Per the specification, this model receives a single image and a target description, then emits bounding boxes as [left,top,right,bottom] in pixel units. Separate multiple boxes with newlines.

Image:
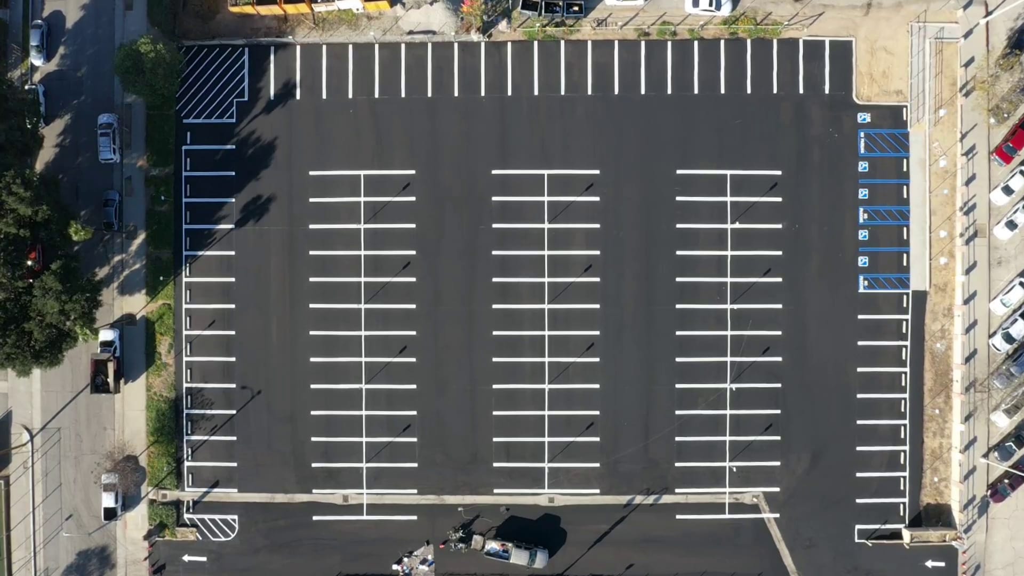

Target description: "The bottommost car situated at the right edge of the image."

[986,466,1024,504]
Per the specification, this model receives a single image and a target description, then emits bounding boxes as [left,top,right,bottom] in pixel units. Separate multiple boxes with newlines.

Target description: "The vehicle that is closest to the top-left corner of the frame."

[26,19,51,67]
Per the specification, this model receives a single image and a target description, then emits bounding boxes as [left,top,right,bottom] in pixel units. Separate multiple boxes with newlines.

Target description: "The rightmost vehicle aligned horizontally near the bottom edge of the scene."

[485,536,546,567]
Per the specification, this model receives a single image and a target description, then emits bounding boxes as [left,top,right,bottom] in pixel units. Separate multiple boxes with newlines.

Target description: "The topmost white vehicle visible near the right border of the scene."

[988,163,1024,206]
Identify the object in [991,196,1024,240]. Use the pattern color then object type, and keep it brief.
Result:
white car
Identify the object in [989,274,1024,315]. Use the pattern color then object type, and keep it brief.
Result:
white car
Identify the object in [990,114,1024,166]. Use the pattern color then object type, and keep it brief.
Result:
red truck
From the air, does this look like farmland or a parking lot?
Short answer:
parking lot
